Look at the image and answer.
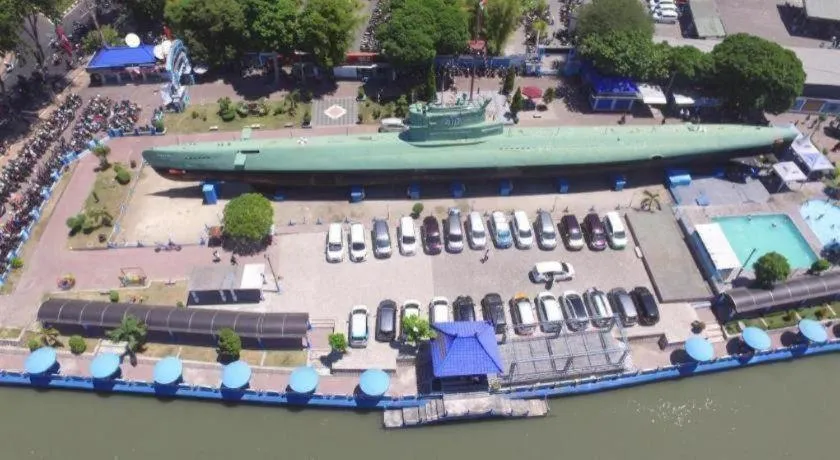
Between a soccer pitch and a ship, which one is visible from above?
ship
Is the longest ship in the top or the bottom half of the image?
top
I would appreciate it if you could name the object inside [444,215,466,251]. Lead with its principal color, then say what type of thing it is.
gray car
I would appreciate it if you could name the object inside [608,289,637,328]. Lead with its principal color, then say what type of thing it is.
gray car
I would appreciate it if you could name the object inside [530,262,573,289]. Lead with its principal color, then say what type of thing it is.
white car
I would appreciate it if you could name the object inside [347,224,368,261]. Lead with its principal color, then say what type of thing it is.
white car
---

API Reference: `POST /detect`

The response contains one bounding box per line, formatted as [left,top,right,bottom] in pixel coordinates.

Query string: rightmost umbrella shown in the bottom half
[794,319,827,347]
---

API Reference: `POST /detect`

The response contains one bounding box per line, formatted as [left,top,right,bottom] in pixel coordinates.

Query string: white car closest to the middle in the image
[398,218,418,255]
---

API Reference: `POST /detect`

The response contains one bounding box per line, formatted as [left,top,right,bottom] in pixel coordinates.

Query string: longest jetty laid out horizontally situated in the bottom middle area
[384,394,550,430]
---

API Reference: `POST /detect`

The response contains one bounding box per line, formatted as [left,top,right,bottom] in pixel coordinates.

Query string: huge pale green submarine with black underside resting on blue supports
[144,67,796,189]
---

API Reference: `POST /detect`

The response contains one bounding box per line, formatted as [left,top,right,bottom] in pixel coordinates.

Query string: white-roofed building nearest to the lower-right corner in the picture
[690,222,745,284]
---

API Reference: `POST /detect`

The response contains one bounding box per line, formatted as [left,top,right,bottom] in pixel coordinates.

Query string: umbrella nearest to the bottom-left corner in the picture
[28,348,61,377]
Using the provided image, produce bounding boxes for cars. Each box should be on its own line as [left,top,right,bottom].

[467,212,488,248]
[482,293,507,334]
[347,224,368,261]
[451,294,475,322]
[347,310,369,345]
[444,215,466,251]
[608,289,637,328]
[662,11,678,25]
[530,262,573,289]
[533,212,559,248]
[400,303,422,337]
[537,294,564,333]
[374,302,397,344]
[580,214,607,250]
[372,221,392,257]
[511,212,535,247]
[559,215,585,251]
[562,292,590,332]
[602,212,628,247]
[398,218,418,255]
[428,298,450,324]
[583,289,614,330]
[629,288,661,327]
[324,224,345,261]
[655,2,676,13]
[422,218,443,254]
[489,212,512,248]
